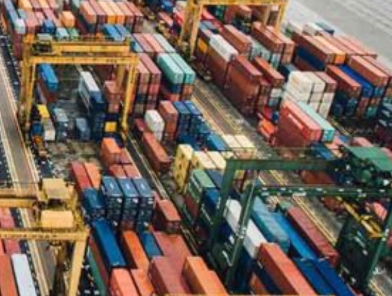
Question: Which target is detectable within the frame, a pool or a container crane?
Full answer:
There is a container crane in the scene.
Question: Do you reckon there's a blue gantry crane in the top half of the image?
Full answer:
No, in the top half of the image there is no blue gantry crane.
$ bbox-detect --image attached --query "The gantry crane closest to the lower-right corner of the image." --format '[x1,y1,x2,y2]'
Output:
[209,146,392,290]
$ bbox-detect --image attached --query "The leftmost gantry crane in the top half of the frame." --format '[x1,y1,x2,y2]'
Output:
[16,37,142,135]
